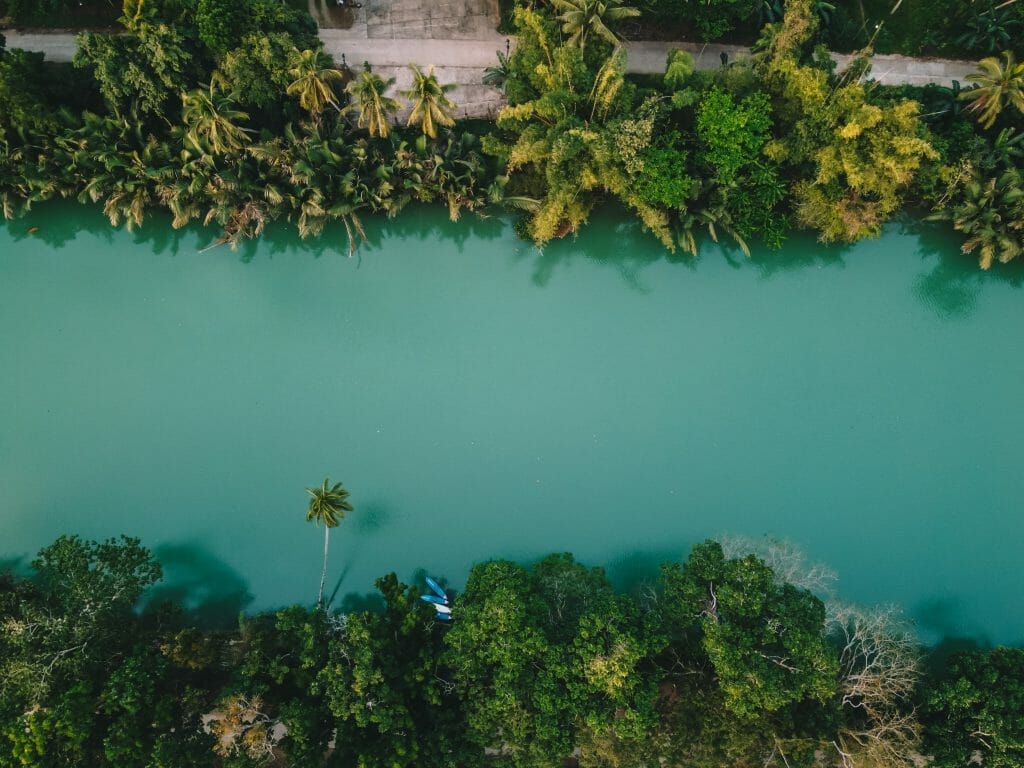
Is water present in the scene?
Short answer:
Yes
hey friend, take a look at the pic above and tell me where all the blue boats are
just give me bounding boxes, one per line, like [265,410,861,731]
[430,612,451,619]
[425,577,446,599]
[421,596,449,603]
